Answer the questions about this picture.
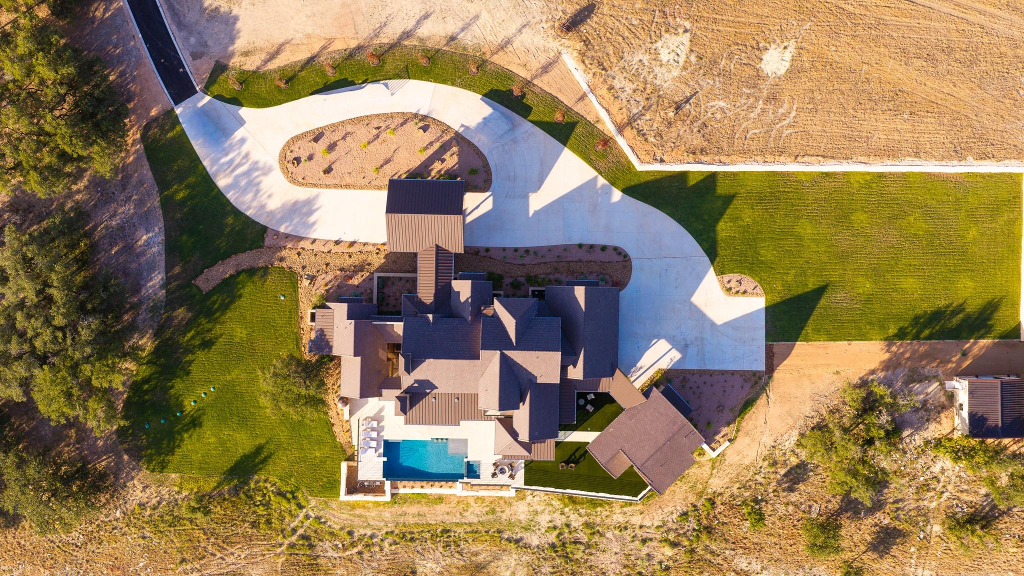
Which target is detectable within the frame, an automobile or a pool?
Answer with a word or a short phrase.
pool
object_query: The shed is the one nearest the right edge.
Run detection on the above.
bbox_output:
[954,375,1024,439]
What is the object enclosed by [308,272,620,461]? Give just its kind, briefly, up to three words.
house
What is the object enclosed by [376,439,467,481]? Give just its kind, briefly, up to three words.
swimming pool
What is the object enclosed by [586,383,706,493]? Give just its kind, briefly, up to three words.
house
